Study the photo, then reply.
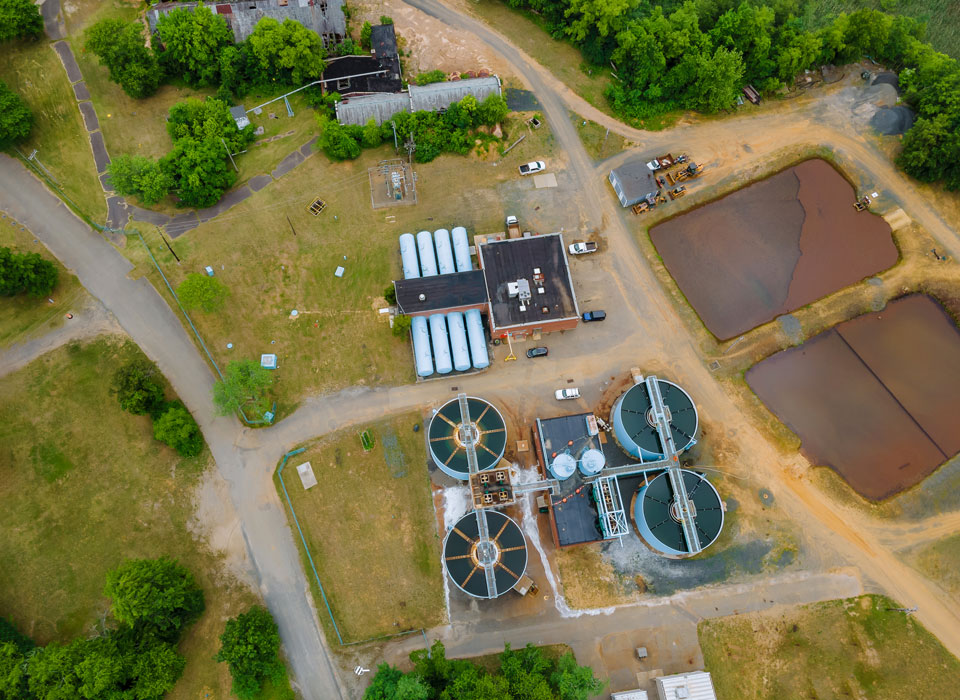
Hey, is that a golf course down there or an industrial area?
industrial area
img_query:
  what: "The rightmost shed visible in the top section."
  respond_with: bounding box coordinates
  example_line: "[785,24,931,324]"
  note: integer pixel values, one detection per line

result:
[609,162,658,208]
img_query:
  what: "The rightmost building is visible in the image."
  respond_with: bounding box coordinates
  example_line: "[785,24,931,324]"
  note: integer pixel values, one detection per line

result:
[650,671,714,700]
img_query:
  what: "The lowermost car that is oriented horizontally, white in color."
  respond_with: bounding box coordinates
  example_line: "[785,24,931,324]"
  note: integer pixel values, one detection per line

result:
[554,386,581,400]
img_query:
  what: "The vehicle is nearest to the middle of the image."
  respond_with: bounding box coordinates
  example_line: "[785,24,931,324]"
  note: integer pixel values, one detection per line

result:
[526,346,549,358]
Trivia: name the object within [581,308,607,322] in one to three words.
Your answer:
car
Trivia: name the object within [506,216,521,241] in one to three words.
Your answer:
vehicle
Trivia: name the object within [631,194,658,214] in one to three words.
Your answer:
work vehicle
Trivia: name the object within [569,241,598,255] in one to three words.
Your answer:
vehicle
